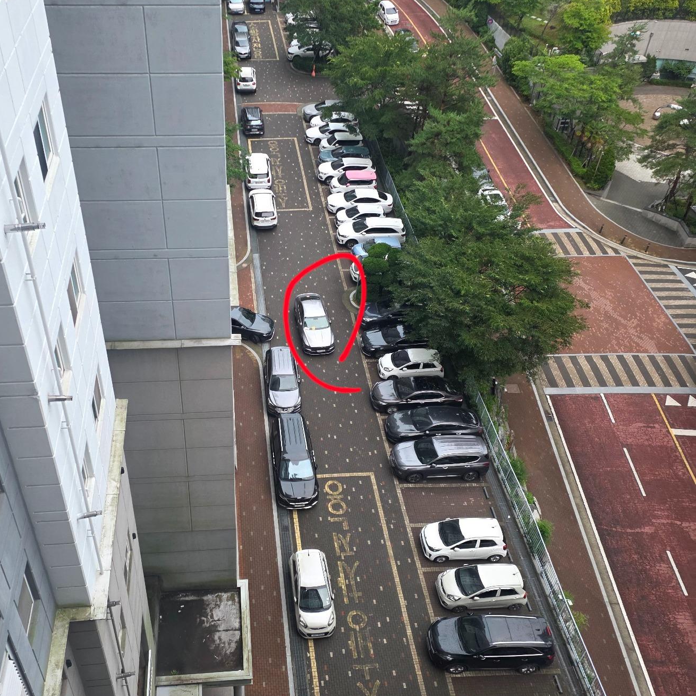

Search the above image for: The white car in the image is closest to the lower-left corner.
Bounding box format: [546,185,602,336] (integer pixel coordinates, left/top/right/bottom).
[293,552,336,634]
